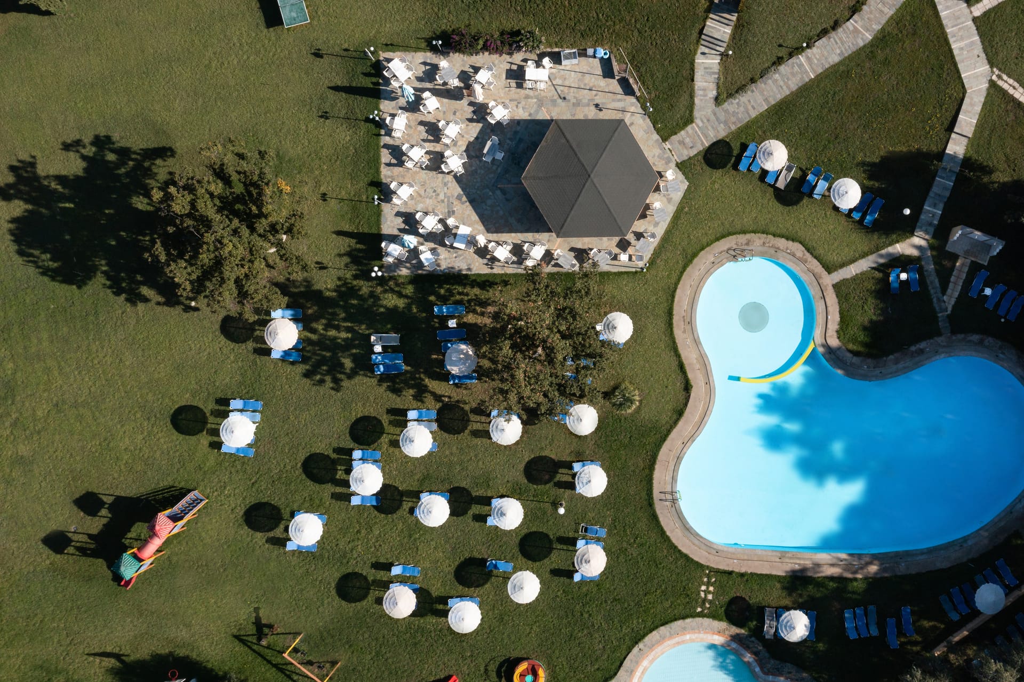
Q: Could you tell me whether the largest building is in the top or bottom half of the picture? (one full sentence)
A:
The largest building is in the top half of the image.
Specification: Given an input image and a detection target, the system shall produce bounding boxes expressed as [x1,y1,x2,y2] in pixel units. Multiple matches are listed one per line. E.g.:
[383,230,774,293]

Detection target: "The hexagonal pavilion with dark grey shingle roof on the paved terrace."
[521,117,660,239]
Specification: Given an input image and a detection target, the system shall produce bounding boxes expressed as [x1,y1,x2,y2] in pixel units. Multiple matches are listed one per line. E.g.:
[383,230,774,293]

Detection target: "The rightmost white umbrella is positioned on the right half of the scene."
[828,178,860,210]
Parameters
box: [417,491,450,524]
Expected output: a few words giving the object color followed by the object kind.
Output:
white umbrella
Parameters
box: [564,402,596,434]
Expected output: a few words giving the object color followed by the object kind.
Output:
white umbrella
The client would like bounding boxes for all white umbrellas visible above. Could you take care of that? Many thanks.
[289,512,324,547]
[417,491,450,524]
[493,496,526,529]
[756,137,788,168]
[385,585,418,618]
[399,423,432,456]
[603,313,635,345]
[347,461,380,495]
[265,317,299,350]
[575,465,608,497]
[828,178,860,210]
[564,402,596,434]
[507,568,539,601]
[575,545,608,578]
[222,413,256,446]
[475,237,488,251]
[472,85,485,105]
[489,413,522,447]
[449,597,483,631]
[778,611,810,643]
